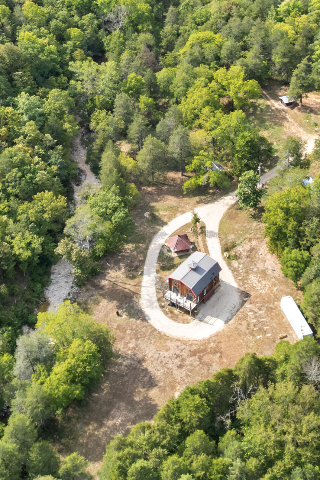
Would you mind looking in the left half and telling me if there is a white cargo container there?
No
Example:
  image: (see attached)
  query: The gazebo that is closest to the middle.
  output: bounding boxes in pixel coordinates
[167,233,193,257]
